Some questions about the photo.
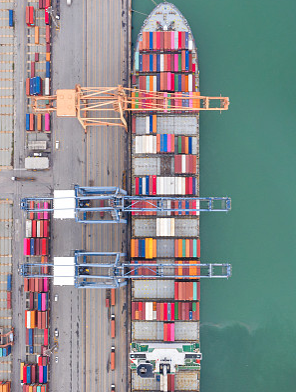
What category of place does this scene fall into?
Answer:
port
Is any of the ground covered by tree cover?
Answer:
No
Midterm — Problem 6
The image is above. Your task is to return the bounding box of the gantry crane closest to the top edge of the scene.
[19,87,234,136]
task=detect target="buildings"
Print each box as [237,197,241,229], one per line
[27,141,46,149]
[25,157,49,169]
